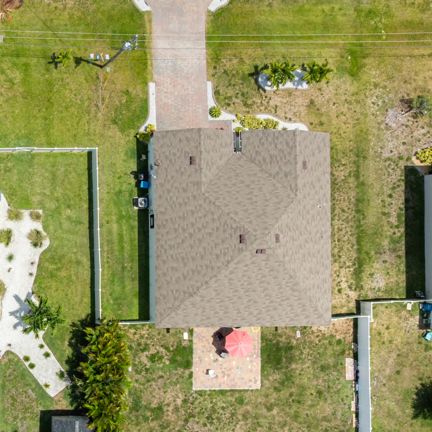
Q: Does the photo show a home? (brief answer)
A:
Yes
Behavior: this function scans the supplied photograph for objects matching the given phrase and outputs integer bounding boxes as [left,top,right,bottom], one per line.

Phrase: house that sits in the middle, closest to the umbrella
[150,129,331,328]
